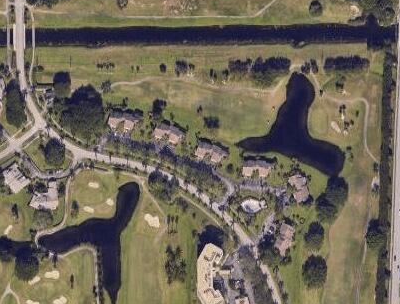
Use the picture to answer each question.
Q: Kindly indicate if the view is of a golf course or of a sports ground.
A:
golf course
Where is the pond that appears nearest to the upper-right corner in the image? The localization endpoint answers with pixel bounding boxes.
[237,72,344,177]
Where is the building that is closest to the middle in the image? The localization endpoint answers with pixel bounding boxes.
[197,140,230,166]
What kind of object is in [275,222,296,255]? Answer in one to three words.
house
